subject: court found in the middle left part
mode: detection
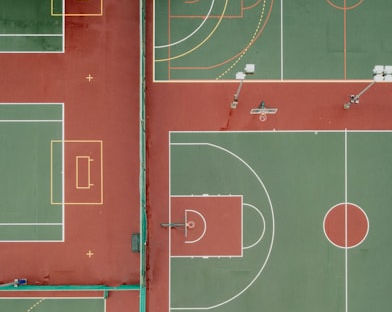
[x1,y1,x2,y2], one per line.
[0,103,102,242]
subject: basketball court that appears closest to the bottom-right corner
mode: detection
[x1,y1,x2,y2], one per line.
[168,128,392,312]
